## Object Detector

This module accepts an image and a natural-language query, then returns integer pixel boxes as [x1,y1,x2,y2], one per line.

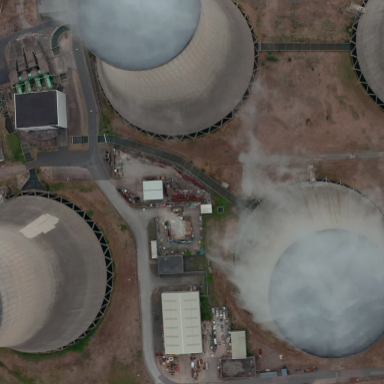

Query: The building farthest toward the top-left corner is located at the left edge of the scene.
[16,90,67,130]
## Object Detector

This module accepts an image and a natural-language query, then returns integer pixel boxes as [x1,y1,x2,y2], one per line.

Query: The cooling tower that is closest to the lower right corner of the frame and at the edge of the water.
[236,163,384,357]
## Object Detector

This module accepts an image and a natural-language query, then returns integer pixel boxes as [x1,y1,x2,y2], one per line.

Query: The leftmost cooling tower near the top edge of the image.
[78,0,259,140]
